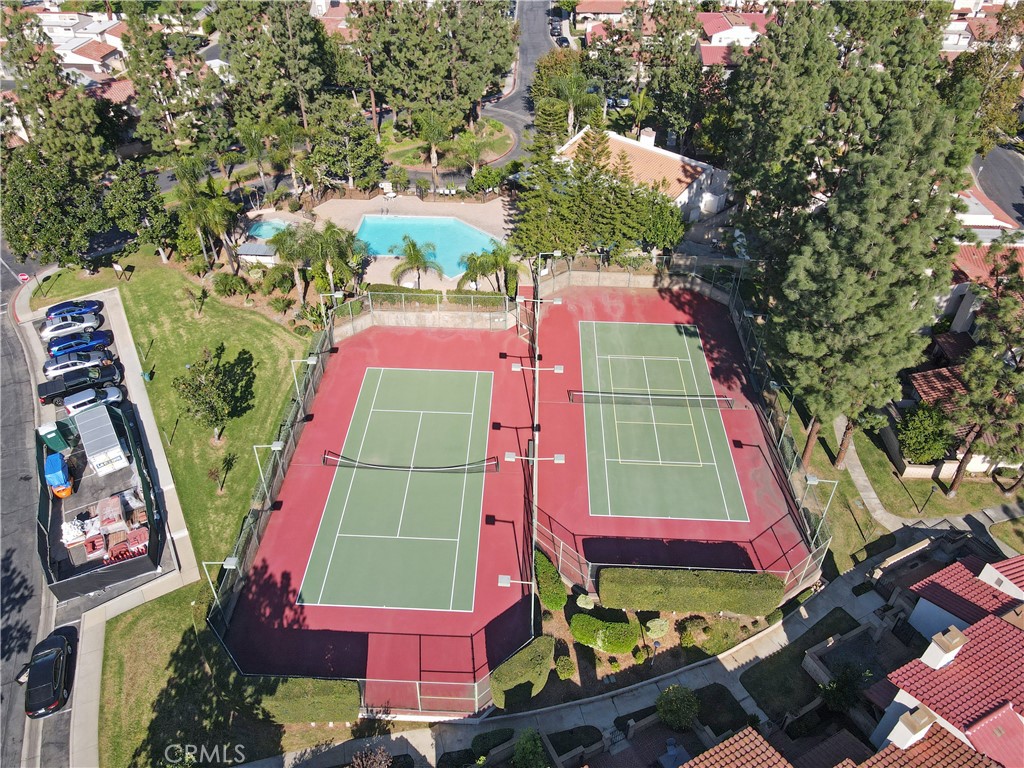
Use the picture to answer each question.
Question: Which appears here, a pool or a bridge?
pool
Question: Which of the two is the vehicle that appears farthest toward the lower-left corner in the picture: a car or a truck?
car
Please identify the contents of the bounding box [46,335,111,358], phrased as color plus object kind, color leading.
blue car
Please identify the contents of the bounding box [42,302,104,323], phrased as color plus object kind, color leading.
blue car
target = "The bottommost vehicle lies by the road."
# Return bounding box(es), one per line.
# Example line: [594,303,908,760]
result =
[18,639,81,723]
